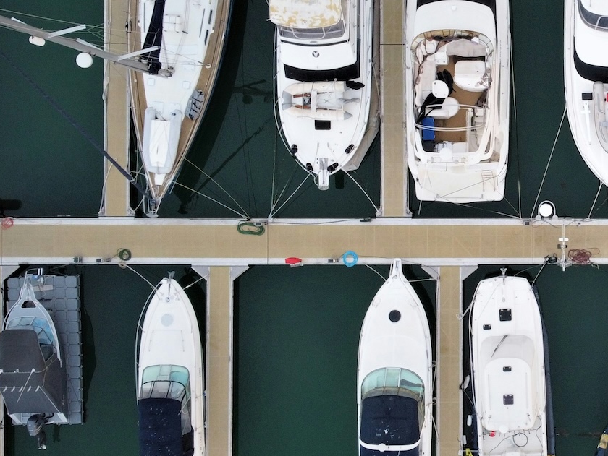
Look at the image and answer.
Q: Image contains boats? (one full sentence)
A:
Yes, you can see a boat in this photo.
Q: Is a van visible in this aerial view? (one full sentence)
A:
No, no van is visible in the view.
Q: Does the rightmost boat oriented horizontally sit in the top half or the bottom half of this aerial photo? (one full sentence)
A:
The rightmost boat oriented horizontally is in the top half of the image.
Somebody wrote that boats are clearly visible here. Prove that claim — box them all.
[278,80,368,120]
[564,0,608,186]
[0,269,79,450]
[357,259,432,456]
[403,0,510,214]
[0,0,234,218]
[469,266,547,456]
[266,0,374,192]
[141,111,185,176]
[135,268,206,456]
